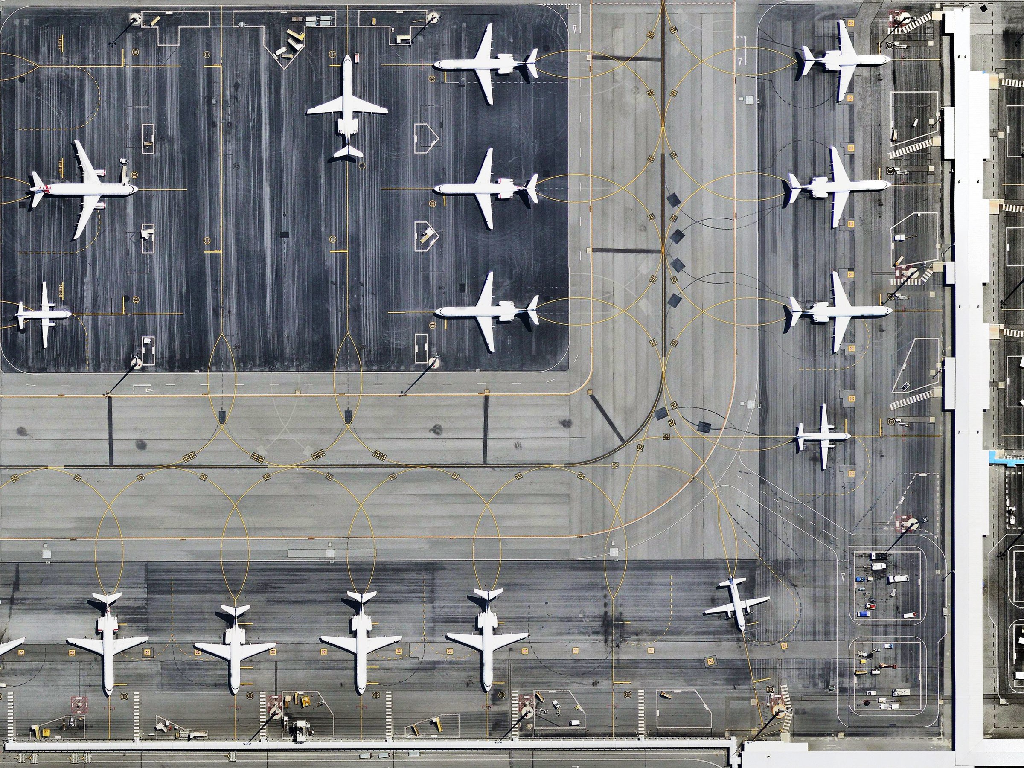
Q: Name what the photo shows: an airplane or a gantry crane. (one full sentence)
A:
The one in the frame is an airplane.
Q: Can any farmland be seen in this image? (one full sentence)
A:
No, the picture contains no farmland.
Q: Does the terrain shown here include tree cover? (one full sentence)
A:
No, there is no tree cover in the image.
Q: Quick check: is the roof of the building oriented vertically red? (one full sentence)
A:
No, the roof of the building oriented vertically is white.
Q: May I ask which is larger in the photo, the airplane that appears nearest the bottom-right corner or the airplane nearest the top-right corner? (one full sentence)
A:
The airplane nearest the top-right corner takes up more space than the airplane that appears nearest the bottom-right corner.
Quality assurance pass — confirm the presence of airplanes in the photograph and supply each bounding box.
[29,140,138,239]
[307,55,388,158]
[802,19,891,101]
[17,281,72,347]
[435,271,540,353]
[796,403,851,469]
[434,23,538,105]
[434,148,539,230]
[790,270,893,352]
[321,590,402,694]
[195,604,276,694]
[706,577,771,632]
[447,588,529,692]
[67,592,149,696]
[788,144,891,226]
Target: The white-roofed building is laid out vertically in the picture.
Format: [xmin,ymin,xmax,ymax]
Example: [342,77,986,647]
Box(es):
[741,8,1024,768]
